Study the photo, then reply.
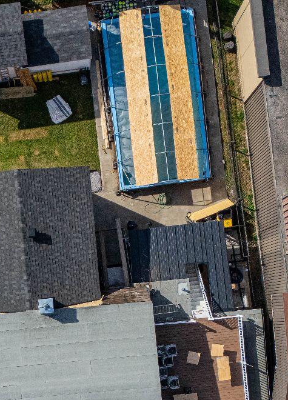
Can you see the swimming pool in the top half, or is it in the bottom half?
top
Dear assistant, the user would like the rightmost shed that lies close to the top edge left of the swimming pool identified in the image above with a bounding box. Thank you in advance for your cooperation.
[22,6,92,76]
